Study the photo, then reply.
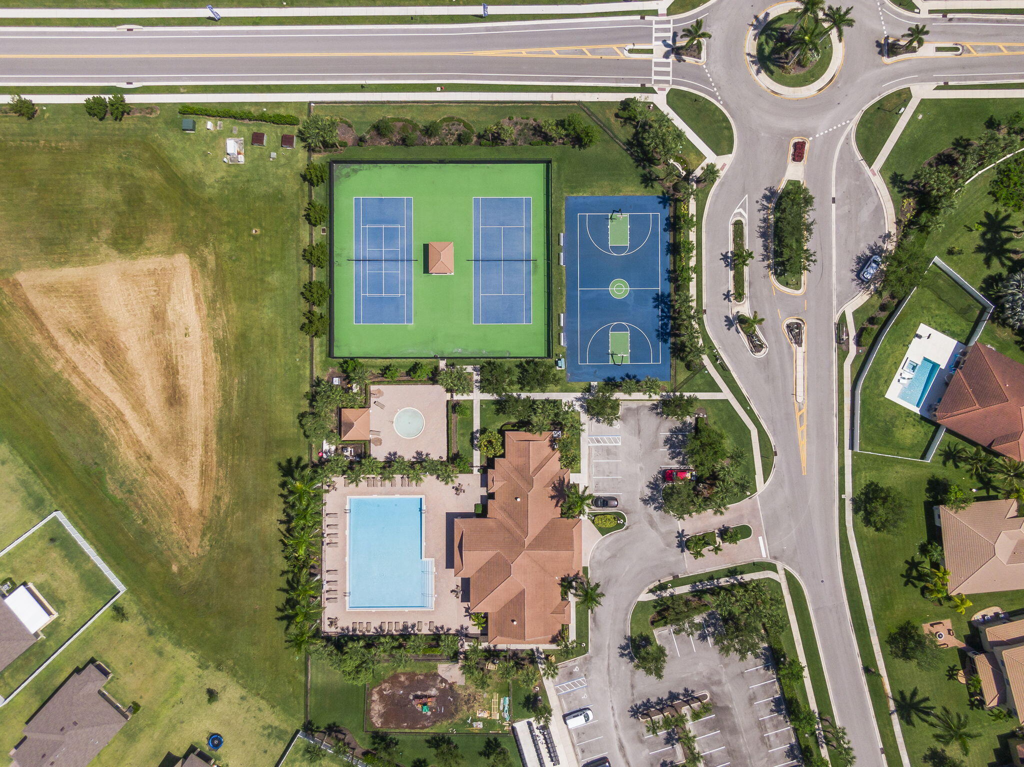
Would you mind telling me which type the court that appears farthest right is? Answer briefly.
basketball court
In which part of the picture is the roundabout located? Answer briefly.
top right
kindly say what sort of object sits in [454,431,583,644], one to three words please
building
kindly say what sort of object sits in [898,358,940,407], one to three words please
swimming pool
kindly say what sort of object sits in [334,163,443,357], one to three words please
tennis court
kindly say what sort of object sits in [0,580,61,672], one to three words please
house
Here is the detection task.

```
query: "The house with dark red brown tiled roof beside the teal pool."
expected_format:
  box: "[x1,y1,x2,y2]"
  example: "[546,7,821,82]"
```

[935,341,1024,460]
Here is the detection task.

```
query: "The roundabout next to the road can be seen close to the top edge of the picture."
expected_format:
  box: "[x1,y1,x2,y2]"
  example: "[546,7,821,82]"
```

[745,0,844,99]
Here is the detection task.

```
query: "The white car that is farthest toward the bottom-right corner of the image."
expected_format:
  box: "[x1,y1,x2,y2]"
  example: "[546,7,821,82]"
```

[565,710,593,730]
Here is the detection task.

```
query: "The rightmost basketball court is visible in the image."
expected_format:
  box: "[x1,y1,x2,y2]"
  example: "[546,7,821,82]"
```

[566,195,670,382]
